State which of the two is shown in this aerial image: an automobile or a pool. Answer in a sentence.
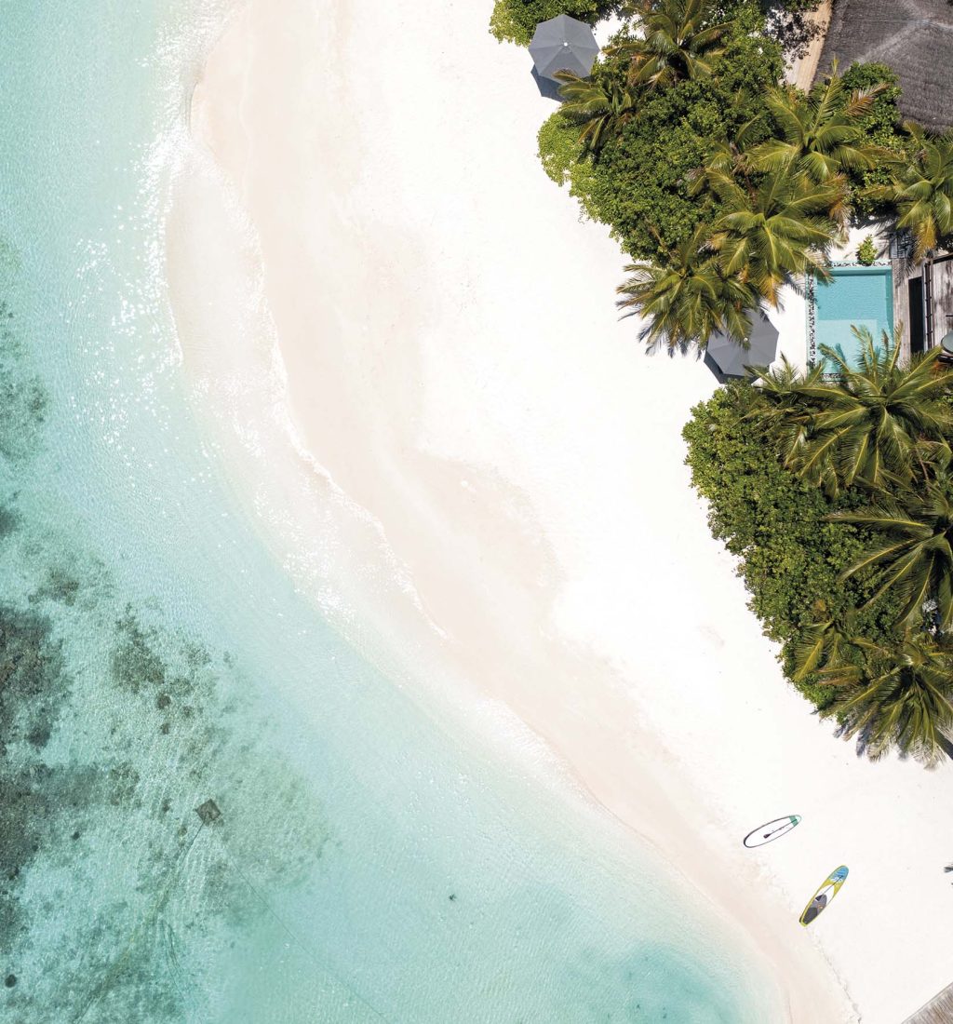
Visible in the photo is a pool.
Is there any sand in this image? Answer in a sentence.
Yes, sand can be seen from above here.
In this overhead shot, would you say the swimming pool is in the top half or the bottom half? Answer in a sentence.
Seen from above, the swimming pool lies in the top half of the view.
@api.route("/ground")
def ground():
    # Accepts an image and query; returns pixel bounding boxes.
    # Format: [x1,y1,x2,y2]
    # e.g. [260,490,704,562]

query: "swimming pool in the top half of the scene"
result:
[806,260,894,382]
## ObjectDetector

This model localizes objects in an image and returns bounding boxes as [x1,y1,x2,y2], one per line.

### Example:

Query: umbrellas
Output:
[708,312,778,381]
[529,13,600,84]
